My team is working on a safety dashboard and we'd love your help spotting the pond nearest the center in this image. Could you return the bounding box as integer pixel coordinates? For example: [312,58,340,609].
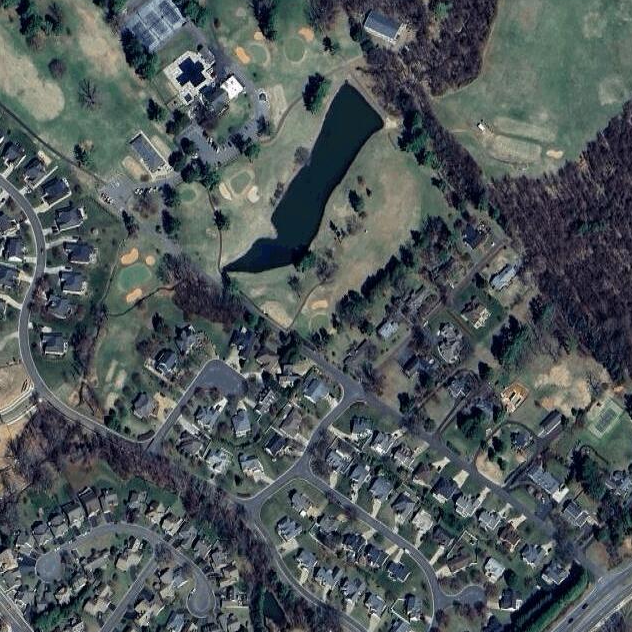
[224,81,382,273]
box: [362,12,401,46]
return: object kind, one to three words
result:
barn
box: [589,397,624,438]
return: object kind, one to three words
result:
tennis court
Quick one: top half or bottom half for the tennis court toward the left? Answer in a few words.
top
